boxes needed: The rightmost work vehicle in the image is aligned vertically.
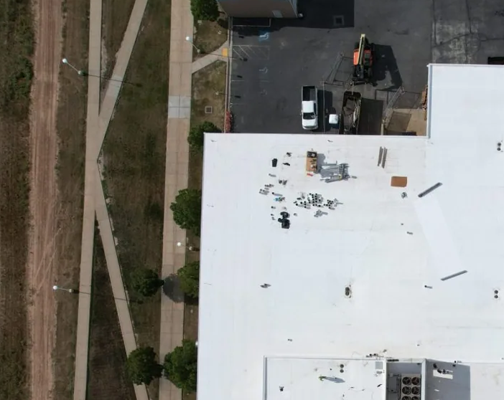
[349,26,374,95]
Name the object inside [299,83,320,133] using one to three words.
truck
